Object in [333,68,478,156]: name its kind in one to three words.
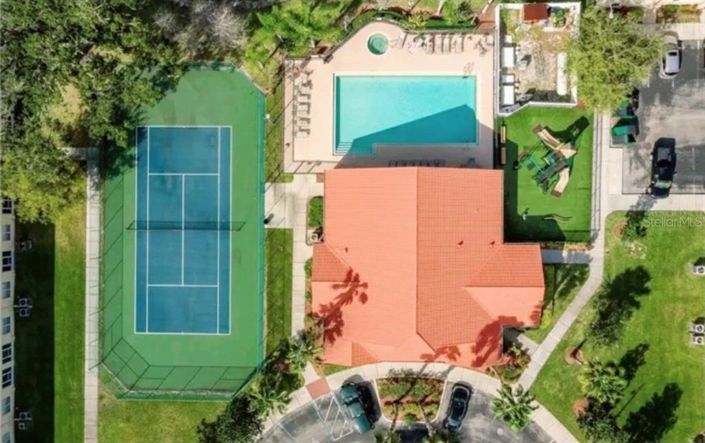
swimming pool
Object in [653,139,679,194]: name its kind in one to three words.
truck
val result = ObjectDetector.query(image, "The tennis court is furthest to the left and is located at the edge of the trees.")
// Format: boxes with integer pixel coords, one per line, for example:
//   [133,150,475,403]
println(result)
[102,68,265,393]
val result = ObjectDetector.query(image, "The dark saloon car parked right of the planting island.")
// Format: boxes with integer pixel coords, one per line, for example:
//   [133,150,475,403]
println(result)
[448,385,472,430]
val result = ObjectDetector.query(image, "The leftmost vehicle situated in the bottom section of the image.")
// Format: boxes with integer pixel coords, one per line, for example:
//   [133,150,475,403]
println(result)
[340,382,374,434]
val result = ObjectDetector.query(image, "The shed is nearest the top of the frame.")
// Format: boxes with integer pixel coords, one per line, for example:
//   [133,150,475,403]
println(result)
[518,5,549,26]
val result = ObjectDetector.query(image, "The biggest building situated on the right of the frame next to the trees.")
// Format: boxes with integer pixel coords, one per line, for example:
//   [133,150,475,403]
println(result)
[312,165,545,371]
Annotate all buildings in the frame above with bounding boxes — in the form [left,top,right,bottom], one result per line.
[518,5,549,26]
[312,165,545,371]
[0,185,30,443]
